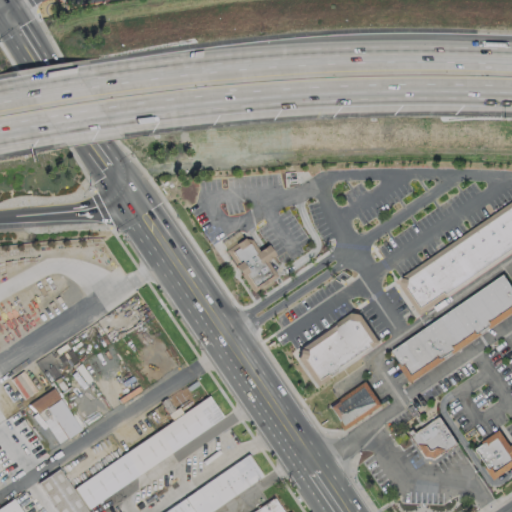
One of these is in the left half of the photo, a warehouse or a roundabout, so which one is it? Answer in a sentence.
What appears in the left half of the photo is a warehouse.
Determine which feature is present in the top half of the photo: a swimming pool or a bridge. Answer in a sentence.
Visible in the top half of the photo is a bridge.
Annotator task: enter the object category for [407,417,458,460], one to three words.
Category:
building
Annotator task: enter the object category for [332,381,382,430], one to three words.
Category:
building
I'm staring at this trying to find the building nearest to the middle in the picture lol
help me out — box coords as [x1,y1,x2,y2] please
[228,238,280,292]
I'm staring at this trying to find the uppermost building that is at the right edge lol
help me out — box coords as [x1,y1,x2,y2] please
[402,204,512,312]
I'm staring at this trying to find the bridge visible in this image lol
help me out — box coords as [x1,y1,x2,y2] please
[8,57,136,153]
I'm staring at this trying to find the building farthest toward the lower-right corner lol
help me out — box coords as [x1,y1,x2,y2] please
[475,430,512,480]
